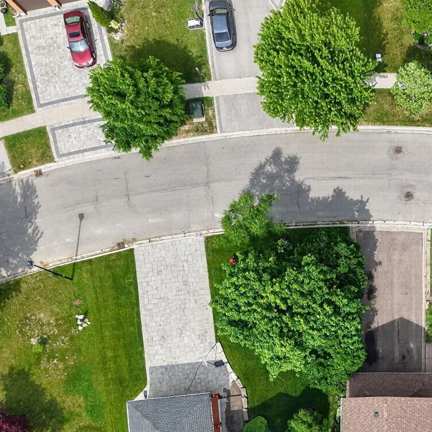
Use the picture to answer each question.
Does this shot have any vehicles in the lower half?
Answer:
No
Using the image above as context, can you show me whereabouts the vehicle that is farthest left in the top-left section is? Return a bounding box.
[63,12,96,67]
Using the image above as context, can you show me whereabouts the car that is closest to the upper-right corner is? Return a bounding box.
[208,0,237,52]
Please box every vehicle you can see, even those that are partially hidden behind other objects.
[63,12,96,67]
[208,0,237,52]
